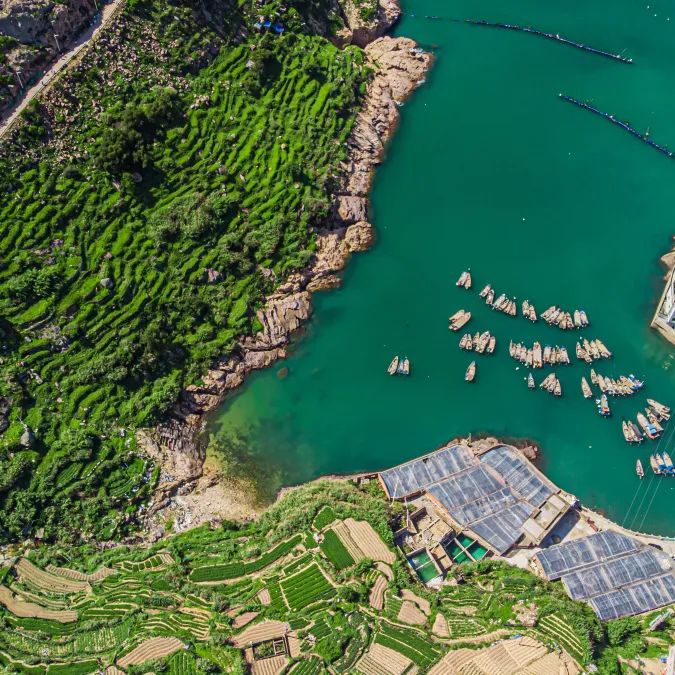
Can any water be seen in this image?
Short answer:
Yes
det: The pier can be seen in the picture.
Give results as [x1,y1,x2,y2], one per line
[648,265,675,354]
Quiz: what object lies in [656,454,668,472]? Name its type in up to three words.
boat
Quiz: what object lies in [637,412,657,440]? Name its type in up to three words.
boat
